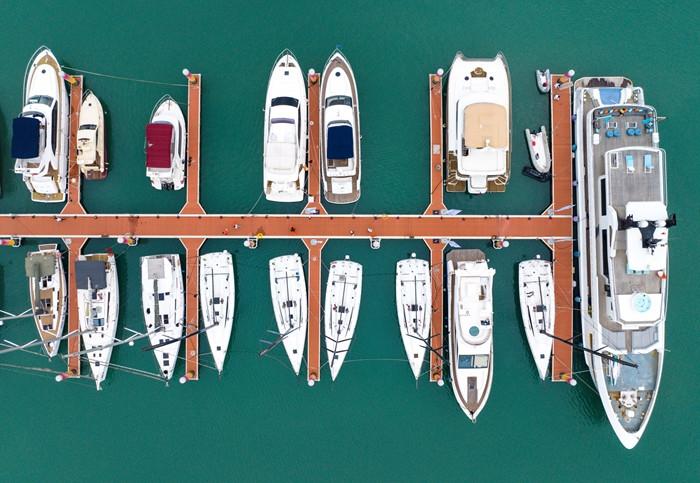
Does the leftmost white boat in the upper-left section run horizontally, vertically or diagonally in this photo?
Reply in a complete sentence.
Seen from above, the leftmost white boat in the upper-left section lies vertically.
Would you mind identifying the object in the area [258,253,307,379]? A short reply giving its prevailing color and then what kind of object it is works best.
white boat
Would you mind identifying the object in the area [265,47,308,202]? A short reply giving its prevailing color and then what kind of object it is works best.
white boat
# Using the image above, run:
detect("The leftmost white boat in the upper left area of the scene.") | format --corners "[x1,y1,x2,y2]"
[11,46,70,202]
